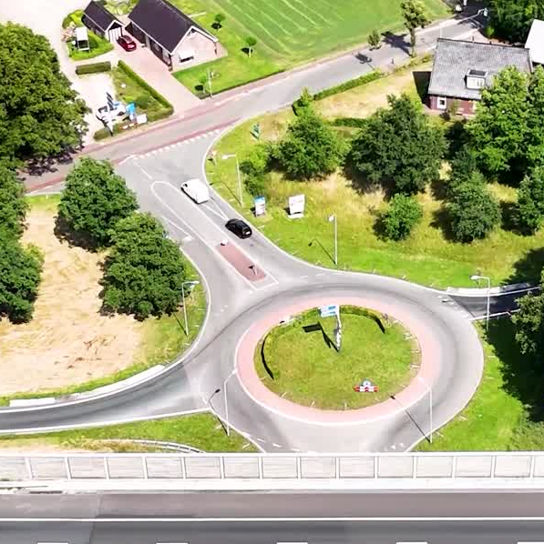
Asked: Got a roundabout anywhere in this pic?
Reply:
Yes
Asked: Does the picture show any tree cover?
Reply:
Yes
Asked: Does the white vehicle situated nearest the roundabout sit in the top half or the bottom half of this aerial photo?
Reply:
top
